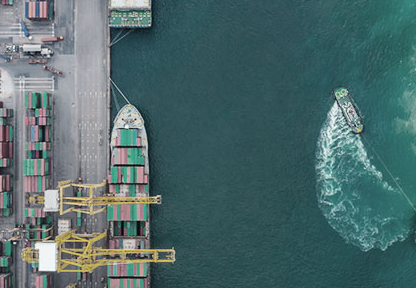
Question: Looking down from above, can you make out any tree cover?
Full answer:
No, there is no tree cover in the image.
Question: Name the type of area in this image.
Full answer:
What you see here is a port.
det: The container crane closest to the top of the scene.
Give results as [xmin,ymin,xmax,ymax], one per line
[29,177,163,216]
